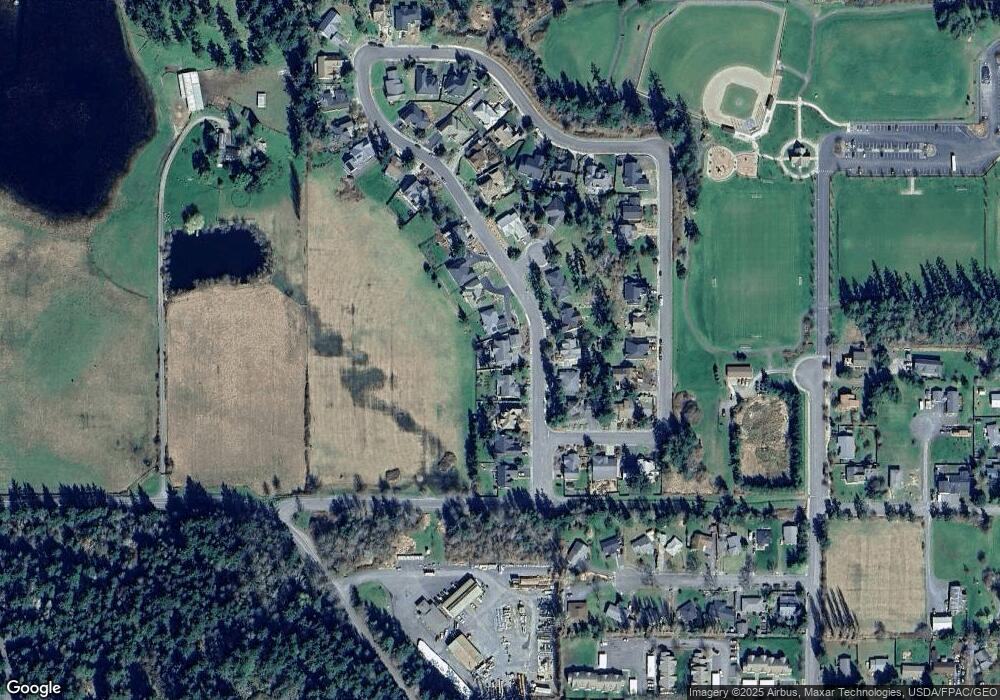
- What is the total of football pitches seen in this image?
2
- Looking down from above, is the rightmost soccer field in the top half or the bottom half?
top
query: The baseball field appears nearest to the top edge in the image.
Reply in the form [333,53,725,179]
[636,0,785,134]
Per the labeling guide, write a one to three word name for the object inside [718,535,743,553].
house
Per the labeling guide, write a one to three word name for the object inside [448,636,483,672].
barn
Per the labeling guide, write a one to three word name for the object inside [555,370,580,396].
house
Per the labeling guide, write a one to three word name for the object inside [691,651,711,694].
building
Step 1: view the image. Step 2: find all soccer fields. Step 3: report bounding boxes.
[687,181,811,346]
[839,178,984,290]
